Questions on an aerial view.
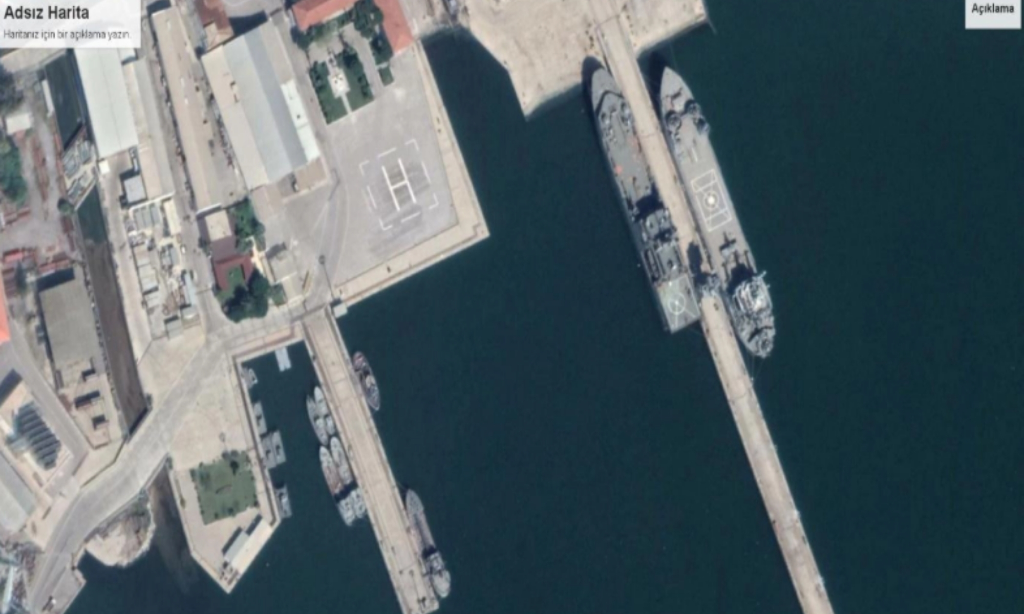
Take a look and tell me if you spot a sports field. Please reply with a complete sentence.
No, I find no sports field anywhere in the image.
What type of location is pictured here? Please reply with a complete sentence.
The picture captures a port.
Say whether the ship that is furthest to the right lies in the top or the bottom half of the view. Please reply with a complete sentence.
You can find the ship that is furthest to the right in the top half.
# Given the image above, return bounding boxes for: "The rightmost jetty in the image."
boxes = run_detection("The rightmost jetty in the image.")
[595,18,834,614]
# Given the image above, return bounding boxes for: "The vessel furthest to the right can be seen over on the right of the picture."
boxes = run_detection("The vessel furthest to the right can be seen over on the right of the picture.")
[659,66,774,359]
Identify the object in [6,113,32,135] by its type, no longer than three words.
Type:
house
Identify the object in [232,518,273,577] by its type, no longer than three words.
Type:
building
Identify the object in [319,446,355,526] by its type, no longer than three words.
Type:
vessel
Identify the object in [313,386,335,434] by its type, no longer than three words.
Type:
boat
